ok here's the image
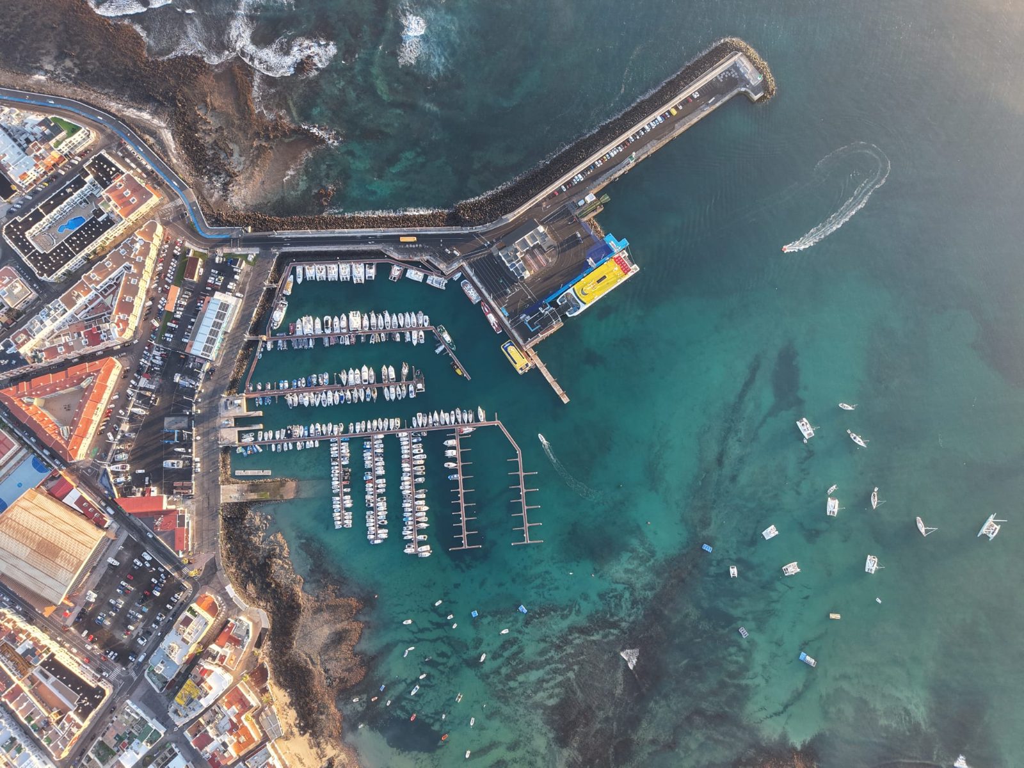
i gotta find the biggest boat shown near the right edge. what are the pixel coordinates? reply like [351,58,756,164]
[974,514,1014,544]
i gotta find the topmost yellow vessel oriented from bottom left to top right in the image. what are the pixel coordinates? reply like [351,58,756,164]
[557,251,643,318]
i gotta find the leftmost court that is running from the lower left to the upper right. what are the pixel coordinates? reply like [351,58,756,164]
[0,454,52,513]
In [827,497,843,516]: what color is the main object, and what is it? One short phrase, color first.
white boat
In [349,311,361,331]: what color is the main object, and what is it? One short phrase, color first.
white boat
